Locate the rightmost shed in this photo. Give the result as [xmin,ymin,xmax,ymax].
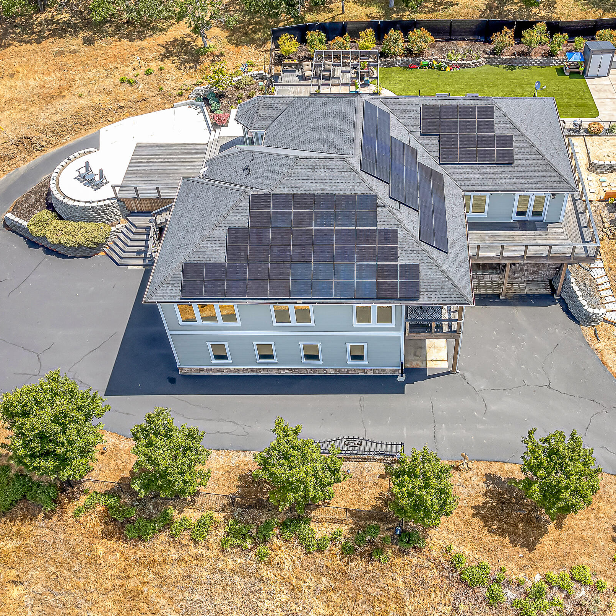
[587,44,616,78]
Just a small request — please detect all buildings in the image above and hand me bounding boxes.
[587,44,616,78]
[142,86,579,384]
